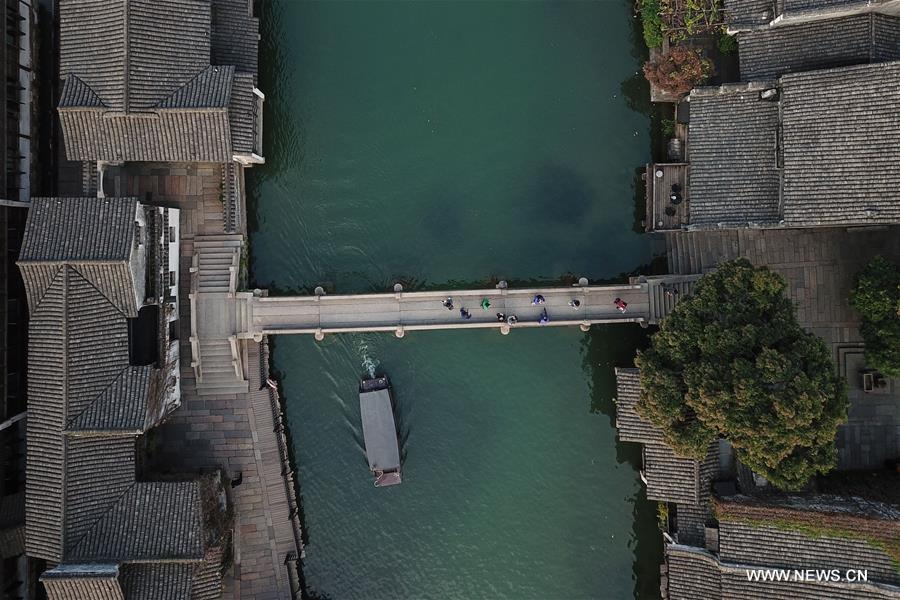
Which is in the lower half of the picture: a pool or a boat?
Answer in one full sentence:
The feature located in the lower half of the picture is a boat.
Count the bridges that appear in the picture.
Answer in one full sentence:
In total, 1 bridge can be seen.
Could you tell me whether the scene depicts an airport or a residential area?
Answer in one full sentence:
This looks like a residential area.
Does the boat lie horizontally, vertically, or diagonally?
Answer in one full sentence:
What the image shows is the boat lying vertically.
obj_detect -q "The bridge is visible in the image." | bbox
[250,276,649,343]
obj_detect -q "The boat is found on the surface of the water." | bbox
[359,373,401,490]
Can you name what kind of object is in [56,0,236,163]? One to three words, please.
house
